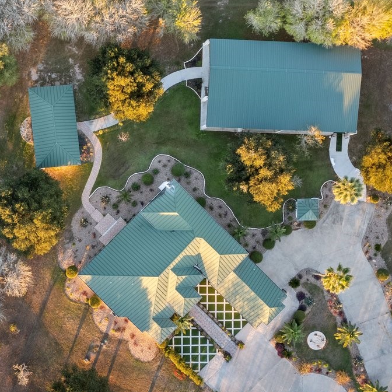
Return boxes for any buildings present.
[293,198,318,220]
[201,36,362,135]
[28,84,82,168]
[77,178,288,343]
